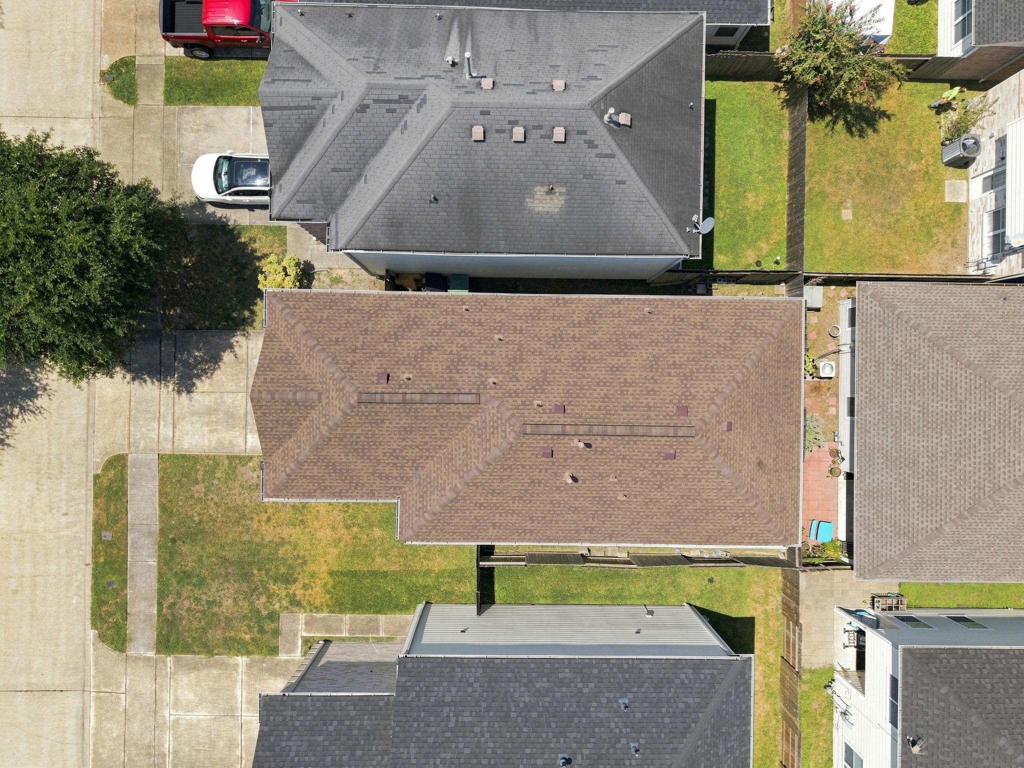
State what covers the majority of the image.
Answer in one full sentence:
The largest share of the image is taken up by buildings.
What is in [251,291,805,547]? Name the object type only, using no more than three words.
house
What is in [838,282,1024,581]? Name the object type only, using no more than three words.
house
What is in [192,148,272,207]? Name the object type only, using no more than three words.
car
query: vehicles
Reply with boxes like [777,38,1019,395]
[156,0,308,55]
[192,148,272,207]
